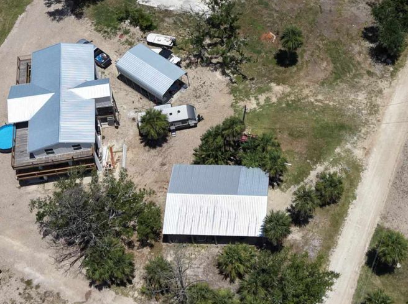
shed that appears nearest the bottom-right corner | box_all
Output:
[163,165,268,243]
